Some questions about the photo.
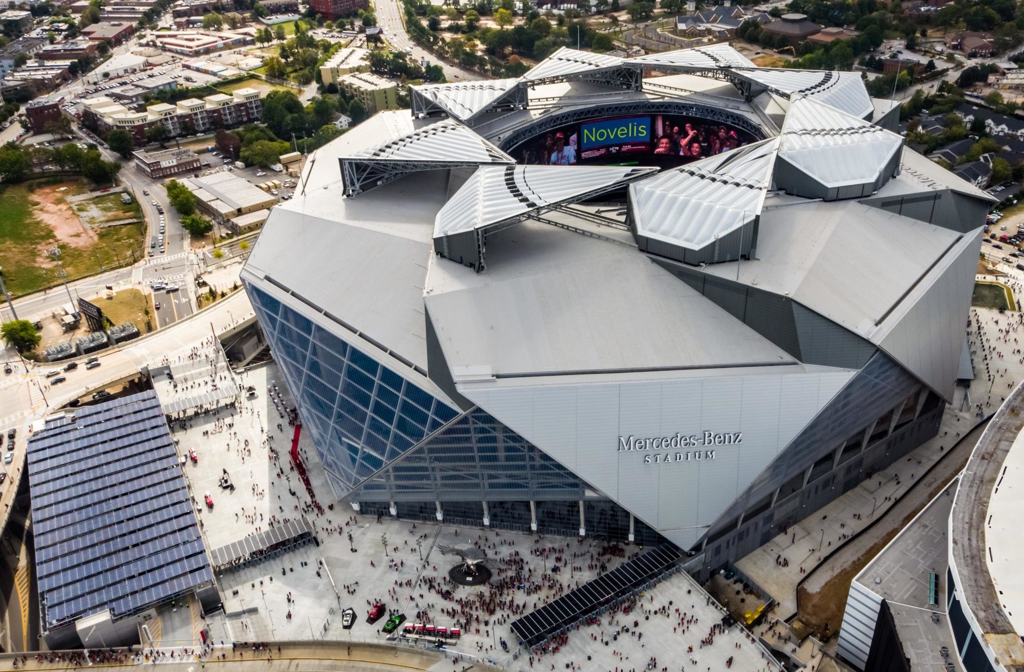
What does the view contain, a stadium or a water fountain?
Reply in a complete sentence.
This aerial view contains a stadium.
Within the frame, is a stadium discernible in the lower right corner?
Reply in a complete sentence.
Yes, the scene does show a stadium in the lower right corner.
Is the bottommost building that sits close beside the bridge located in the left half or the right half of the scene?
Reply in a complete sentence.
The bottommost building that sits close beside the bridge appears in the left half of the scene.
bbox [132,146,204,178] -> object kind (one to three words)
building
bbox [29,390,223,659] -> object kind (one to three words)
building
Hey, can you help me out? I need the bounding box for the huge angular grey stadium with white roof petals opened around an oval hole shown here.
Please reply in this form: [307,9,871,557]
[240,34,996,593]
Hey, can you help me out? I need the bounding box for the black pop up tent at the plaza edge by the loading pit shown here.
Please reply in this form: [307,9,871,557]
[714,604,745,635]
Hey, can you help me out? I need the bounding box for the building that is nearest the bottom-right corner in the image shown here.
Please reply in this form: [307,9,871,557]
[838,466,967,672]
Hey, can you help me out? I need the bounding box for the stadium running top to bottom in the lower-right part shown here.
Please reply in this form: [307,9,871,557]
[944,382,1024,672]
